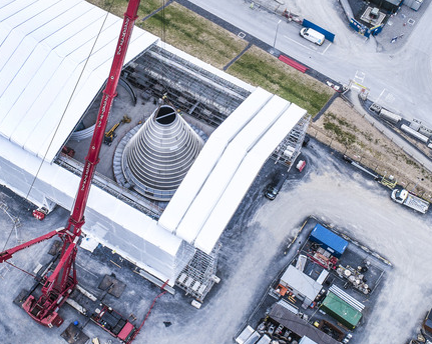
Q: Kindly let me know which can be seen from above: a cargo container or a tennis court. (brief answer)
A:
cargo container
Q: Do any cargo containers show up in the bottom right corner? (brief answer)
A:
Yes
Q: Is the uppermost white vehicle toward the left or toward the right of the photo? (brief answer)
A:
right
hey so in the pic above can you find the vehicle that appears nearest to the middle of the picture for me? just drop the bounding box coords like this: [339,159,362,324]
[263,171,287,200]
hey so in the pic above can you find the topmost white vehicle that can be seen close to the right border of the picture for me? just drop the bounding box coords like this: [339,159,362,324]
[392,186,431,217]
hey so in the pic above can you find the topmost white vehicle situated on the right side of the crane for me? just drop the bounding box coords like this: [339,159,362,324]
[297,26,328,48]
